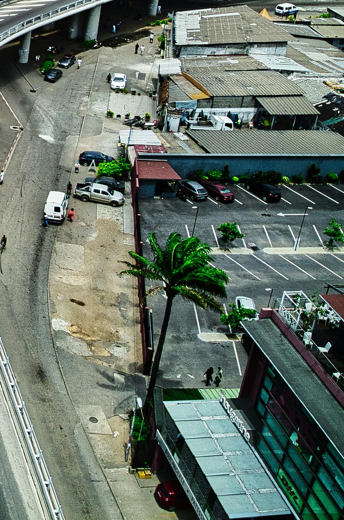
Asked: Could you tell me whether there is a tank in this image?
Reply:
No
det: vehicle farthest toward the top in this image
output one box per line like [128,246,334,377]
[272,2,303,16]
